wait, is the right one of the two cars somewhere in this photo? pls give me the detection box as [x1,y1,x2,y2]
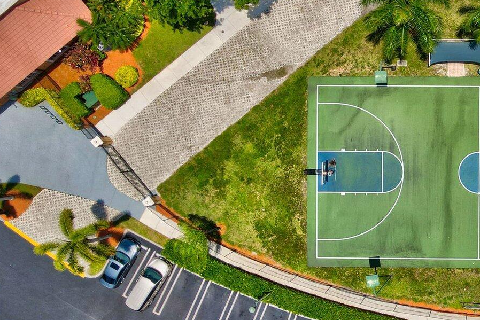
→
[123,255,174,315]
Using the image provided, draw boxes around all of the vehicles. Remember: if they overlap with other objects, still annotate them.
[123,255,174,315]
[99,234,142,290]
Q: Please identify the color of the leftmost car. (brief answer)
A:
blue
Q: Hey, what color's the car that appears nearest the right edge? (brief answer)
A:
white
